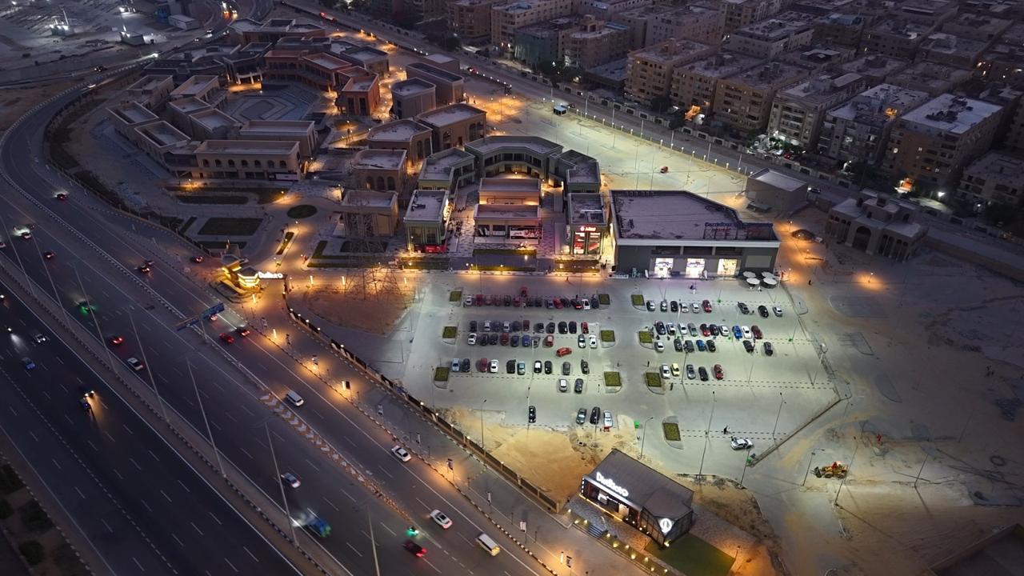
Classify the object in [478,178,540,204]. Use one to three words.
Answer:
building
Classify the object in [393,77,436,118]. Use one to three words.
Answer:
building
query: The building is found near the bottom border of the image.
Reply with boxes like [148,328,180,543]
[579,448,695,550]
